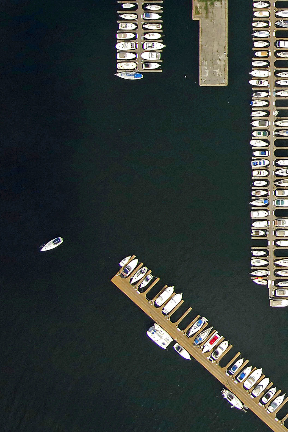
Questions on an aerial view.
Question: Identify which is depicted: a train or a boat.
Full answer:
Visible in the photo is a boat.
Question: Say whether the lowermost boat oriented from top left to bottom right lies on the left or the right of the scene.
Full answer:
The lowermost boat oriented from top left to bottom right sits on the right side.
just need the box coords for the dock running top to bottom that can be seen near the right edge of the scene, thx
[251,0,288,300]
